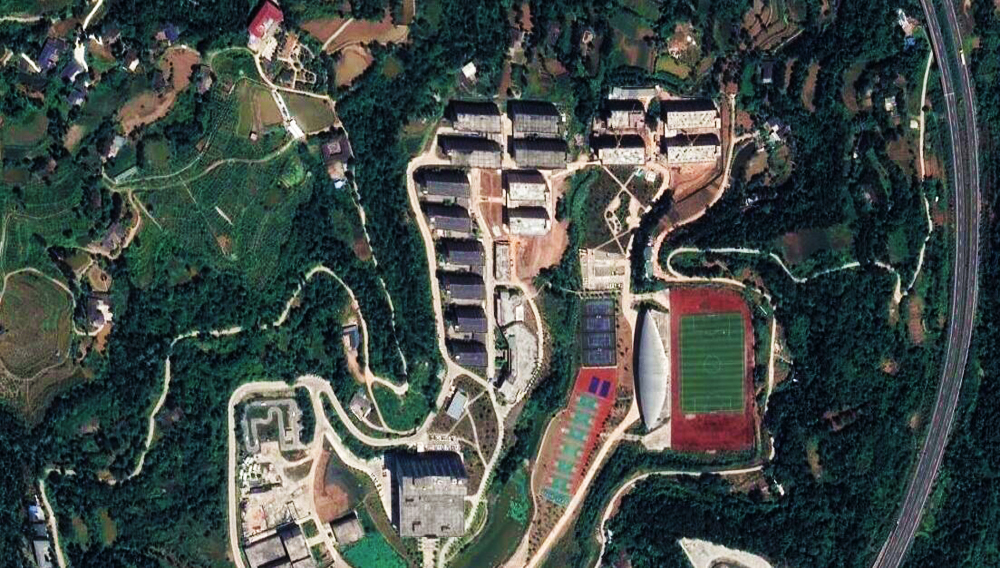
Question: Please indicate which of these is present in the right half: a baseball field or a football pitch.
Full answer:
What appears in the right half is a football pitch.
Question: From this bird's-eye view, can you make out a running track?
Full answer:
Yes, you can see a running track in this photo.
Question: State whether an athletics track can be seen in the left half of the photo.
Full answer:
No, no athletics track is visible in the left half of the photo.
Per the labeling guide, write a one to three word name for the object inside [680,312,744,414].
soccer field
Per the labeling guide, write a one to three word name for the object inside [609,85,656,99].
shed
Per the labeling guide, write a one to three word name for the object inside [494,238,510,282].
building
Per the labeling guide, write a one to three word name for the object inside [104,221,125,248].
house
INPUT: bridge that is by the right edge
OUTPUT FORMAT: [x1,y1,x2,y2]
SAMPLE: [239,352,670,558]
[879,0,966,568]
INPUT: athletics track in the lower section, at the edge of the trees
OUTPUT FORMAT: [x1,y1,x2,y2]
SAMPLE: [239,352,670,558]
[670,288,755,453]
